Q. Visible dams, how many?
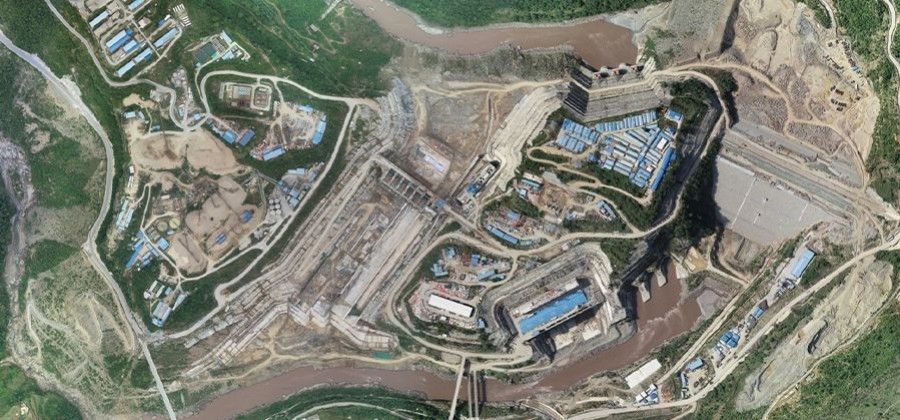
two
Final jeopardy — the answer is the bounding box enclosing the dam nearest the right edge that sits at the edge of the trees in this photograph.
[715,155,830,245]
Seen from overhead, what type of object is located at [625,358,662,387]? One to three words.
building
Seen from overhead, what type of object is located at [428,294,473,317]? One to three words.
building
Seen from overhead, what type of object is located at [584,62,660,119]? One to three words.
dam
